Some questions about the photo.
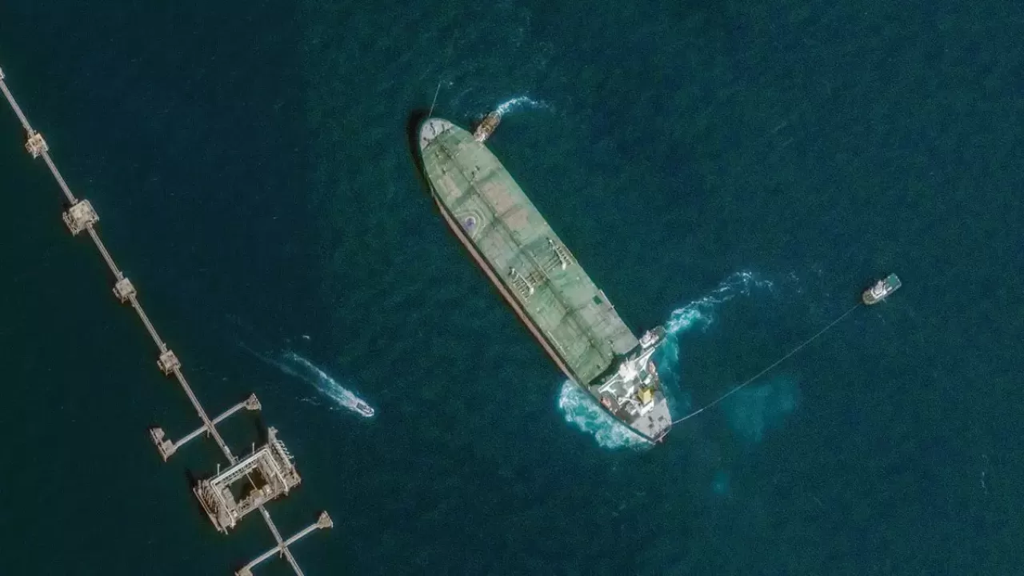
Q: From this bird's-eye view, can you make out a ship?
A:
Yes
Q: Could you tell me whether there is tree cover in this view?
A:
No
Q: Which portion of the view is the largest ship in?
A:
center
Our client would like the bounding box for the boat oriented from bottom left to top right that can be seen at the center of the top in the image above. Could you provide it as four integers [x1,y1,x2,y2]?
[474,110,502,145]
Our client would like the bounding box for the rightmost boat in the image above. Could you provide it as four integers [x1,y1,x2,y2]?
[862,273,901,303]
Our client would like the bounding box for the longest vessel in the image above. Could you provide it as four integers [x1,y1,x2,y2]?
[420,117,671,447]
